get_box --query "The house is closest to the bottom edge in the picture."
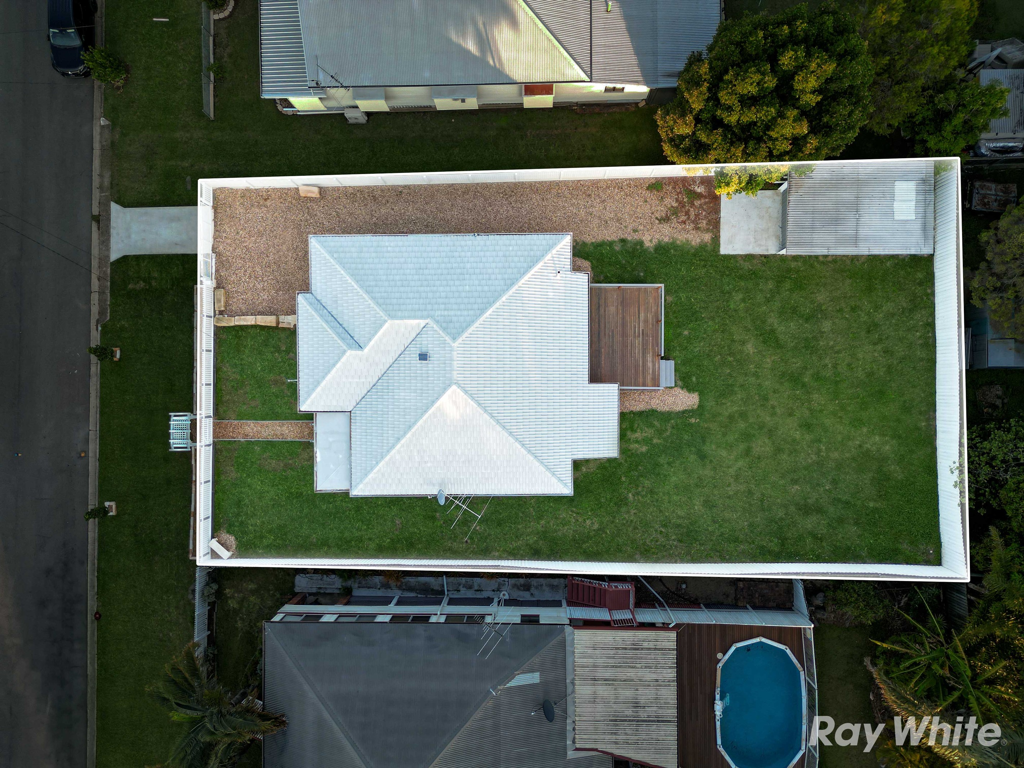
[262,575,612,768]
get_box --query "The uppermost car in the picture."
[43,0,99,86]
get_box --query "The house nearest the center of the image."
[295,232,621,498]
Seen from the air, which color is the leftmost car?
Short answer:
black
